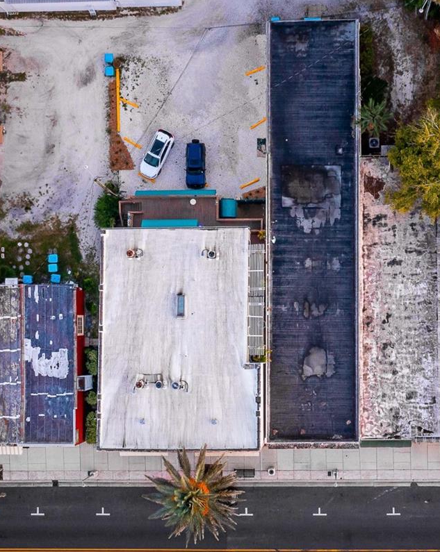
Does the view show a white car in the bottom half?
No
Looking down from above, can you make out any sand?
No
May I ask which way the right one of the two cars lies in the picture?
from top to bottom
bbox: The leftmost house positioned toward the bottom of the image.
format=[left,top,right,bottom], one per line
[0,284,88,447]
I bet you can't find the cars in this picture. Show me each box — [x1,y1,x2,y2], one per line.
[138,124,175,181]
[181,138,205,188]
